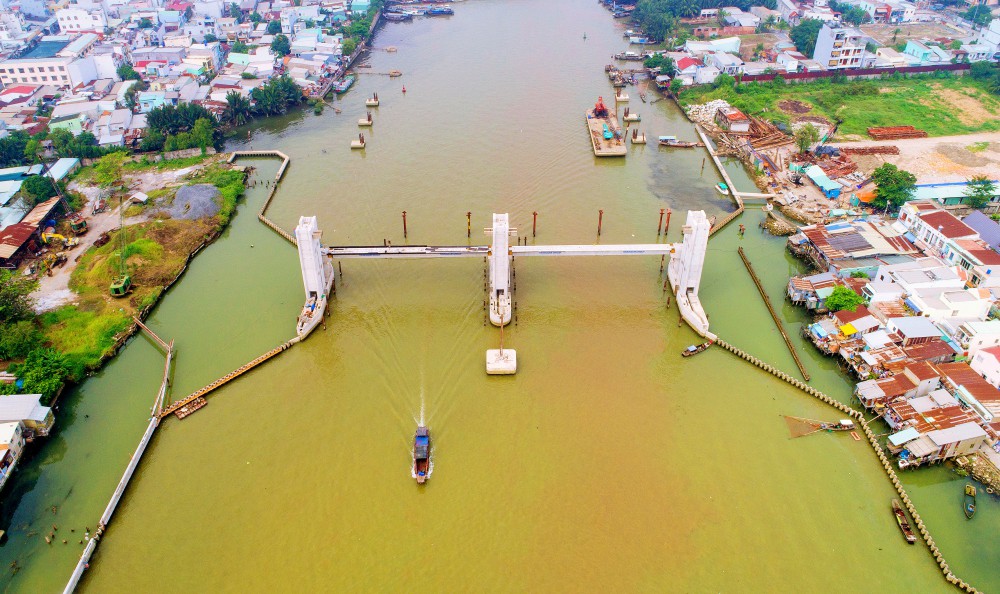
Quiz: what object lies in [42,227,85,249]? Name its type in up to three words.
work vehicle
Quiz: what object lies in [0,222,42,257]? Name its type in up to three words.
shed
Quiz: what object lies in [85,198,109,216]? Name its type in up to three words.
vehicle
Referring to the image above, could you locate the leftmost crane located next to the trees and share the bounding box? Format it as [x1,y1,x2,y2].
[38,155,90,232]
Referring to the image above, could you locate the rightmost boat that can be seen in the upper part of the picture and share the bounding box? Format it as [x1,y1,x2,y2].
[716,182,729,195]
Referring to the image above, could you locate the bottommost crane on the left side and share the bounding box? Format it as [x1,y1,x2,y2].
[99,196,137,296]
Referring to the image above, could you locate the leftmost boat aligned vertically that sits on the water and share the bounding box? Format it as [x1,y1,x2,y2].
[411,423,432,484]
